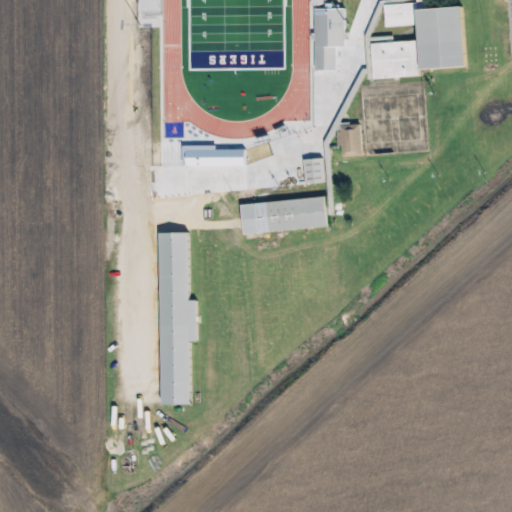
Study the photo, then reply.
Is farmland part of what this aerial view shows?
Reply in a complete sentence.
Yes, some farmland is visible.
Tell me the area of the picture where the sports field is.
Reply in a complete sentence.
The sports field is in the top part of the image.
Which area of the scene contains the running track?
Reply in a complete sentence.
The running track is located in the top region of the scene.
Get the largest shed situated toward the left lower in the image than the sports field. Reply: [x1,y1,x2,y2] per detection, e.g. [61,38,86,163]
[158,232,198,404]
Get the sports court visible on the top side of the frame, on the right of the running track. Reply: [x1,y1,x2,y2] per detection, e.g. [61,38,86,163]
[362,82,429,154]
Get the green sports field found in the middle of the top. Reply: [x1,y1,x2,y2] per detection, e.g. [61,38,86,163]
[182,0,292,122]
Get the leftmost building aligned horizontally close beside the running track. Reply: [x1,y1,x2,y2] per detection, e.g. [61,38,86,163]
[184,150,247,166]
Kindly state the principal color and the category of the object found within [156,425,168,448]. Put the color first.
white vehicle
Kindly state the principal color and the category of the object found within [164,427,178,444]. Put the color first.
white vehicle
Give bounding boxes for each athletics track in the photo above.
[165,0,310,140]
